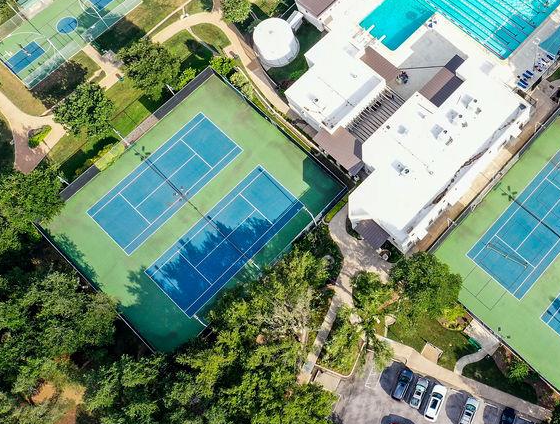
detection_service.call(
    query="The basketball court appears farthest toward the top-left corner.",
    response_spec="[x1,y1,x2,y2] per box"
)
[0,0,143,93]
